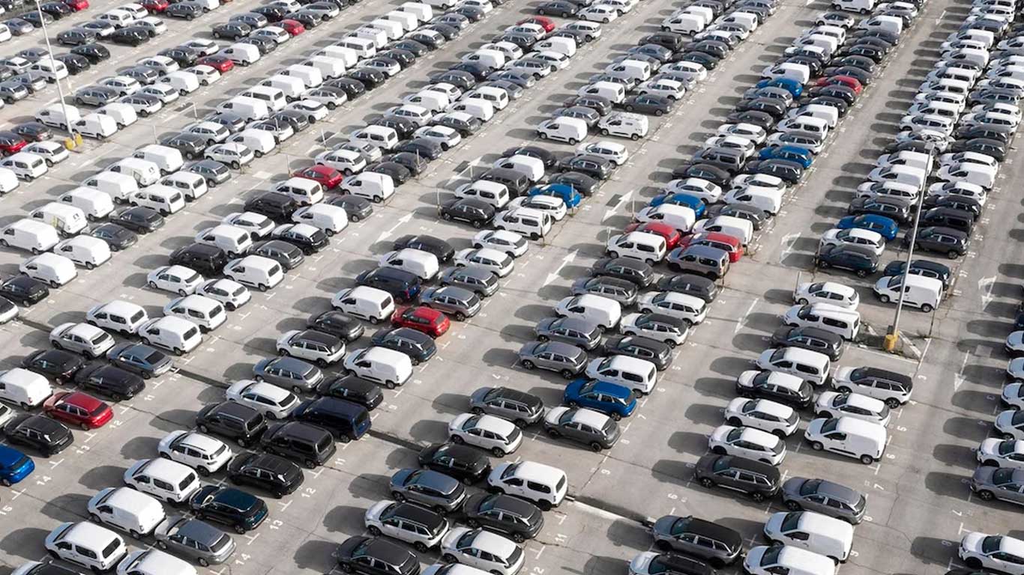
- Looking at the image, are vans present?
Yes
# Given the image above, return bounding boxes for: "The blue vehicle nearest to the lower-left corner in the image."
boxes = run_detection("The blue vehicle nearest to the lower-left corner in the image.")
[0,444,38,487]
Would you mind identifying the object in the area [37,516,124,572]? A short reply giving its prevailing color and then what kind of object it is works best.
white van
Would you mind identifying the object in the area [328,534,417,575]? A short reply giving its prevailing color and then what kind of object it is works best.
black car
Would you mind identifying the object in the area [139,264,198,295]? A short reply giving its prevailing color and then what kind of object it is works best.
white car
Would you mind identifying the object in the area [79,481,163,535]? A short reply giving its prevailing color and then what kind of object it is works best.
white van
